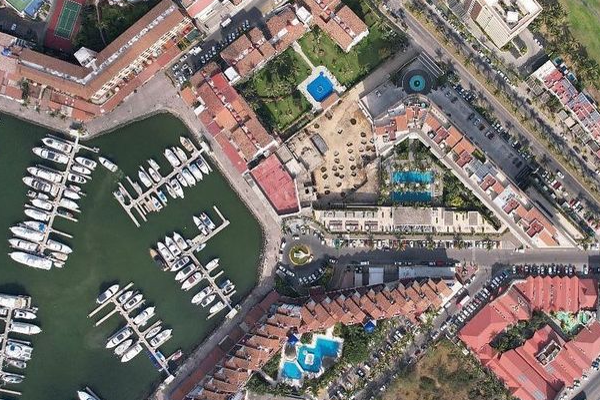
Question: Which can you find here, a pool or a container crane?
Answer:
pool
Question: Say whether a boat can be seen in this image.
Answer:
Yes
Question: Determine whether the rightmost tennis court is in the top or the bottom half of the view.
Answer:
top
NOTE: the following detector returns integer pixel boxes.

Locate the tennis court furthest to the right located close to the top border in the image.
[44,0,85,49]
